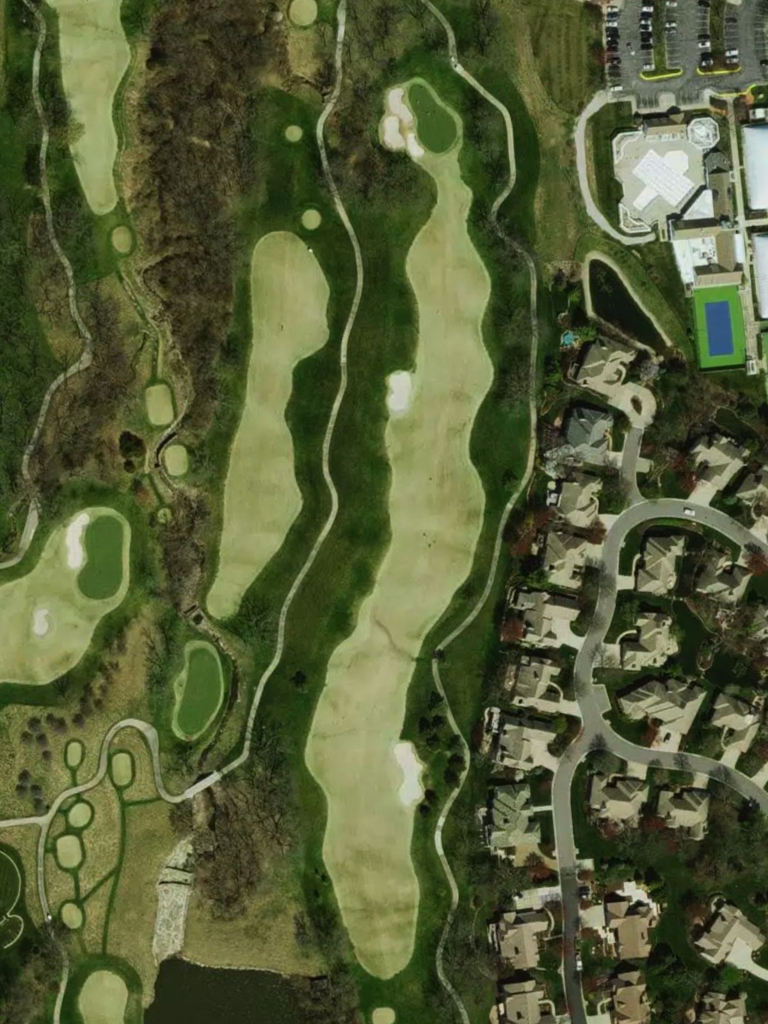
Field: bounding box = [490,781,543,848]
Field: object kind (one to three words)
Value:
house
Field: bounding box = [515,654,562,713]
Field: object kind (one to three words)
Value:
house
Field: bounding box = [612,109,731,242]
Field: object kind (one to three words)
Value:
building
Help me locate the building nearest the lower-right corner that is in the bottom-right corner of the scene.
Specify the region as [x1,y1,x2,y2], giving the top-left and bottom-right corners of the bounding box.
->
[705,991,749,1024]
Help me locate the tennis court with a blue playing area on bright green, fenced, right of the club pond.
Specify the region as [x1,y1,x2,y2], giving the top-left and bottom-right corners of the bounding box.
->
[694,284,747,372]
